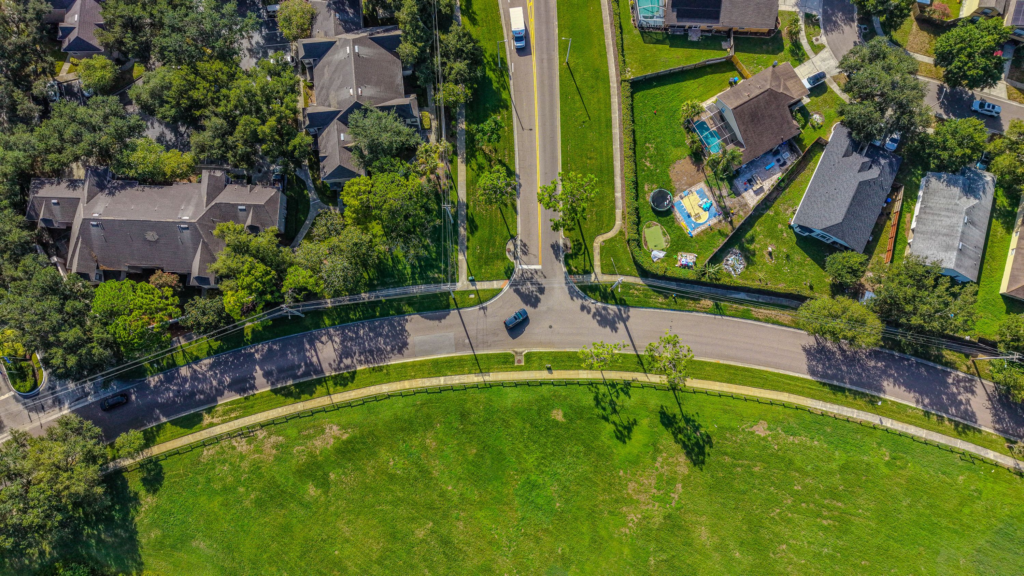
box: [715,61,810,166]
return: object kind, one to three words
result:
house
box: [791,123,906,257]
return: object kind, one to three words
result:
house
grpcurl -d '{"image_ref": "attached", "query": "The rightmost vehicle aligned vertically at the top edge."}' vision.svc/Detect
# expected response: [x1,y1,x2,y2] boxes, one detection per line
[509,7,527,50]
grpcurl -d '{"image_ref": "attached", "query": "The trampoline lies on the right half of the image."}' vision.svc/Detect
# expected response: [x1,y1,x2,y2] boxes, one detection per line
[650,189,672,210]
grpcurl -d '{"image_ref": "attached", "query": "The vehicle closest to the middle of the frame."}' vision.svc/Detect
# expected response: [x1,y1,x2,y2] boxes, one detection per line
[502,307,528,331]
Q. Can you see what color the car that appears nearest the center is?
blue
